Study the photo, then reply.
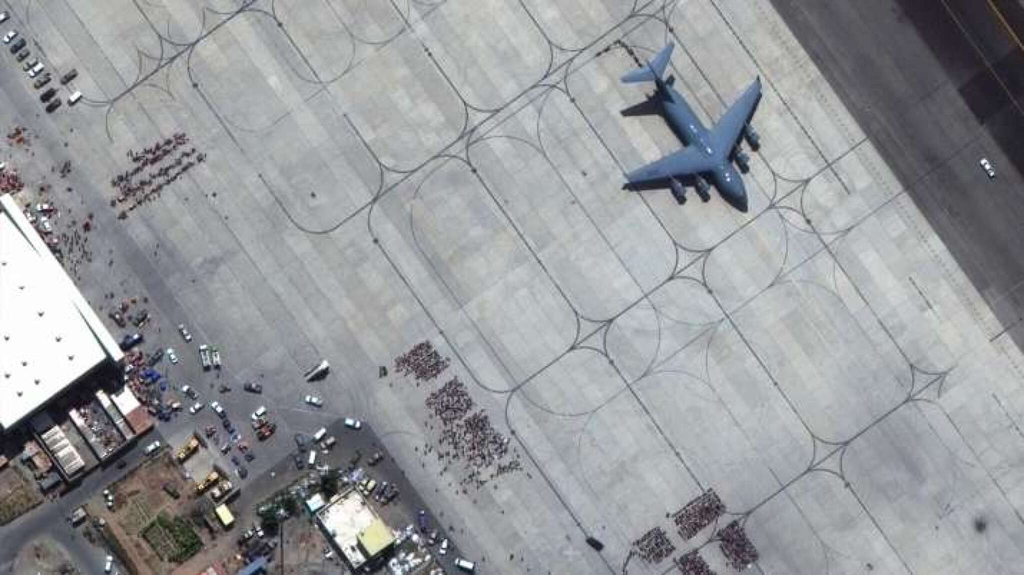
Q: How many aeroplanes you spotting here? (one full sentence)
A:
The count comes to 1 aeroplane.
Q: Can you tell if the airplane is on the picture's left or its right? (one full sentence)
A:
The airplane appears in the right half of the scene.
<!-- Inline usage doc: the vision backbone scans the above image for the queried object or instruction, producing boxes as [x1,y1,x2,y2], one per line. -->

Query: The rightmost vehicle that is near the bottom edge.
[585,535,604,552]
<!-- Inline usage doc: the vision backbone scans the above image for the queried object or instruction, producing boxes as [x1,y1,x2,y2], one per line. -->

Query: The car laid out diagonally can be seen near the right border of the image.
[980,160,994,177]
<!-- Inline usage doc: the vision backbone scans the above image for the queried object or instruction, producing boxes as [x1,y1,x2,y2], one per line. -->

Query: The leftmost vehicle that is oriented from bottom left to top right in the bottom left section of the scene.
[69,508,88,524]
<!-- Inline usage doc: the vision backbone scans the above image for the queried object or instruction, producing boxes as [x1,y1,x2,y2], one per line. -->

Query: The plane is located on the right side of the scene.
[618,37,757,208]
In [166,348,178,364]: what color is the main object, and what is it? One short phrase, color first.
white vehicle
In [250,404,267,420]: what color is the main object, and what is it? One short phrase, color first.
white vehicle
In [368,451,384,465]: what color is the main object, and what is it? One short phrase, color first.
gray car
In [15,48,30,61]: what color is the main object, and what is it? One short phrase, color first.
gray vehicle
